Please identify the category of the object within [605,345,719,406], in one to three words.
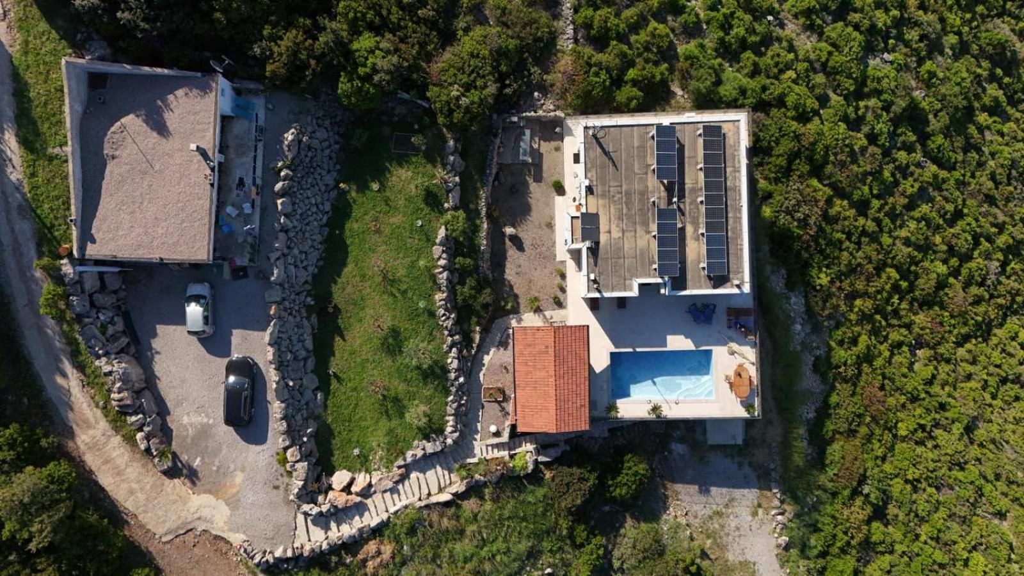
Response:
swimming pool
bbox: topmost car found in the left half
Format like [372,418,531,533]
[181,282,216,338]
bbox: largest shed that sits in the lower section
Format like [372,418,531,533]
[512,325,592,434]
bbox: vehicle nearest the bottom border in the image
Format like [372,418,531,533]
[220,356,256,429]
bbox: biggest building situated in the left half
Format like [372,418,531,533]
[63,60,242,264]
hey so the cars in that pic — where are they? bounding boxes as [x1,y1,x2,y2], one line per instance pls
[181,282,216,338]
[220,356,256,429]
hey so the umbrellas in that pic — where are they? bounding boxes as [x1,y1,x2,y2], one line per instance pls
[719,331,755,364]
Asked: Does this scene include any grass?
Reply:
Yes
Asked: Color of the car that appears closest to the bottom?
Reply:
black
